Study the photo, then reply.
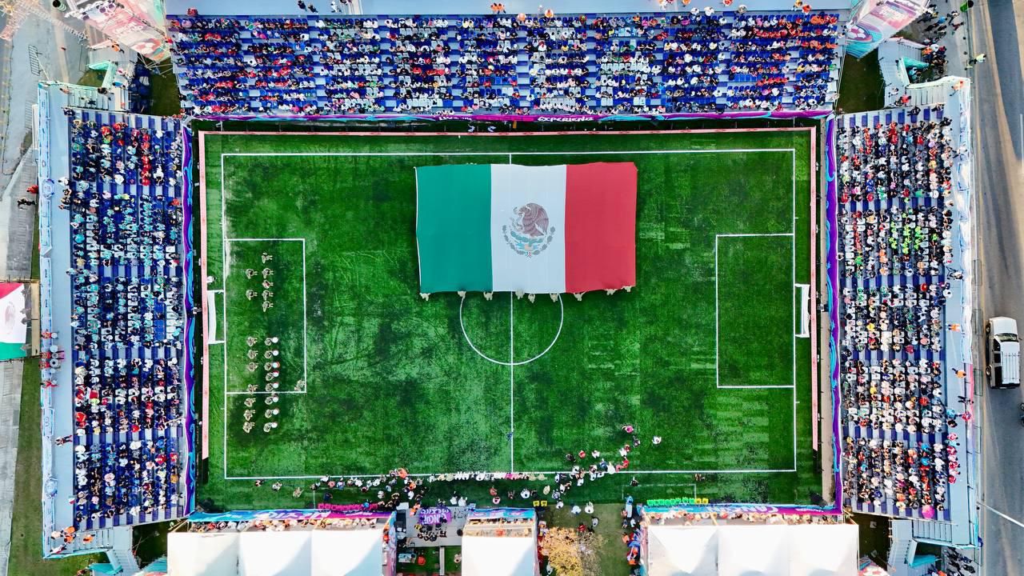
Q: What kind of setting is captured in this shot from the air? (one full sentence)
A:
It's a sports ground.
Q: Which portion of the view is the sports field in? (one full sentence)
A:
The sports field appears toward the center of the photo.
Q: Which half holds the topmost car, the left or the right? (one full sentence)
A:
It is on the right.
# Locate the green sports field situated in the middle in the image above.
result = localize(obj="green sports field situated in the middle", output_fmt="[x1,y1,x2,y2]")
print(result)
[193,121,822,512]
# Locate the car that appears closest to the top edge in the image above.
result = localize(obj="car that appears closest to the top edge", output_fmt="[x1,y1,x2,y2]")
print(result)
[986,317,1024,390]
